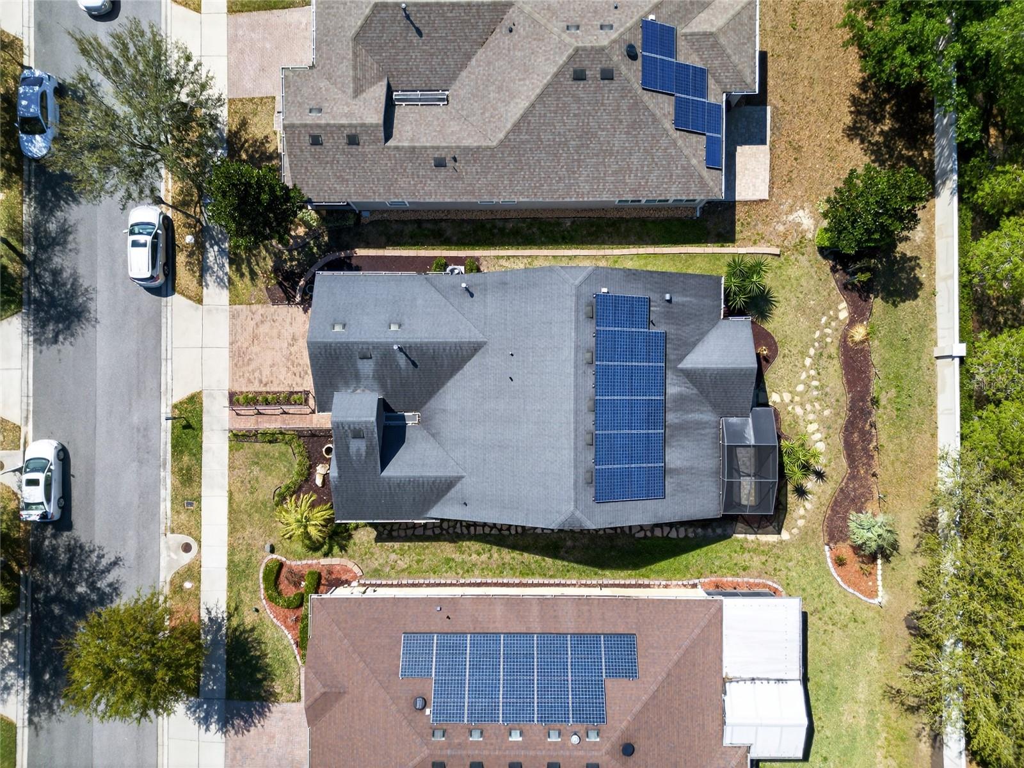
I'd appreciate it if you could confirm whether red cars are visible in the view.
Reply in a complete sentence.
No, no red car is visible in the view.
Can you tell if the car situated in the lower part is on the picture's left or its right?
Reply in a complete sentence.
The car situated in the lower part is on the left side of the image.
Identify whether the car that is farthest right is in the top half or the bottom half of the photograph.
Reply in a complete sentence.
The top half of the photo is where the car that is farthest right is.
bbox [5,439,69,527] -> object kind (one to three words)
car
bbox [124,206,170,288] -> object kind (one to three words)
car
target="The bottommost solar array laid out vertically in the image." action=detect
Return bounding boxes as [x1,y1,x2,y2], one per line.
[594,291,667,502]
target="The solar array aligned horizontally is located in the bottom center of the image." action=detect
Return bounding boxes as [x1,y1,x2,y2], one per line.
[398,633,640,729]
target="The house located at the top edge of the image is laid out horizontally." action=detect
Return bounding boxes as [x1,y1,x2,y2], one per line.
[282,0,759,213]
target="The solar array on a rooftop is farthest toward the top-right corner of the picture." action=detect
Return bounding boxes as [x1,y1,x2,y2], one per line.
[640,17,720,169]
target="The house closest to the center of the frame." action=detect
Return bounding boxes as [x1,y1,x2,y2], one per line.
[305,262,760,532]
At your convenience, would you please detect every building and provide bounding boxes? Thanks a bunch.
[282,0,759,213]
[300,581,751,768]
[305,262,760,532]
